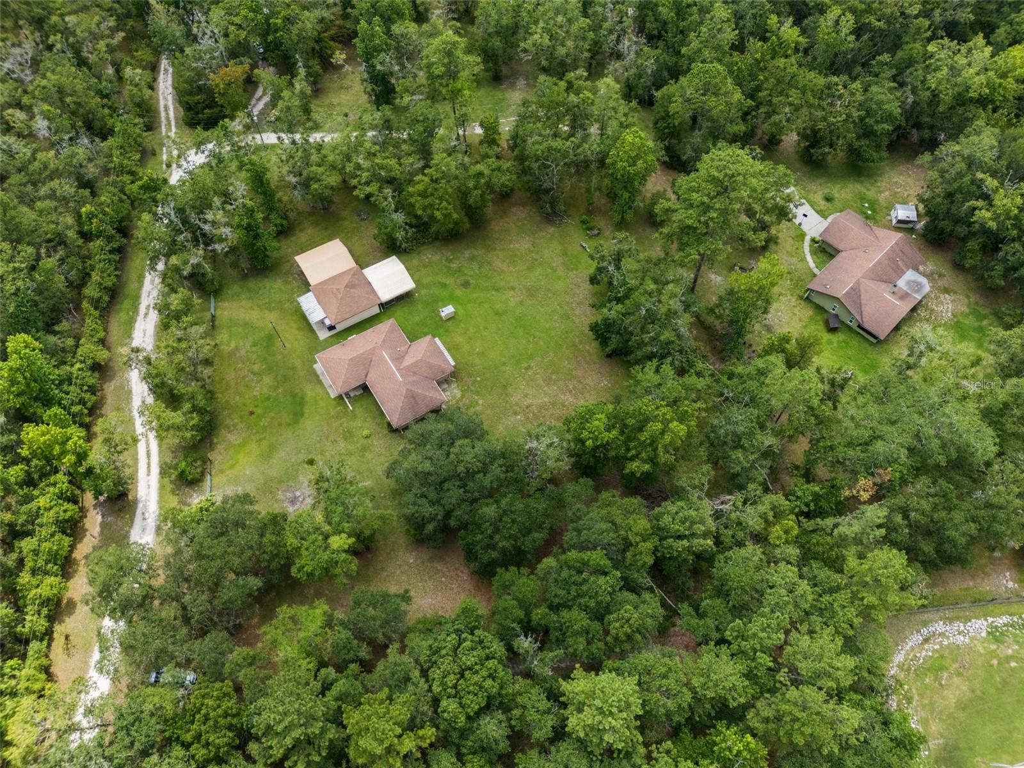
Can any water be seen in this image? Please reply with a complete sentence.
No, there's no water in this view.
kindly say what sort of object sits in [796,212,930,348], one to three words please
building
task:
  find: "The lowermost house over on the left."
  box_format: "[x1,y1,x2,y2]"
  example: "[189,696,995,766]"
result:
[315,319,463,440]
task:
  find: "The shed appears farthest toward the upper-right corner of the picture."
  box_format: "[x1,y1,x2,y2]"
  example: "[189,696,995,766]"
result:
[882,208,919,232]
